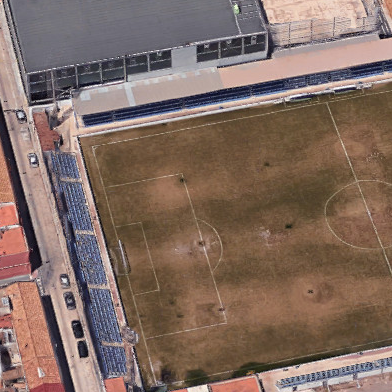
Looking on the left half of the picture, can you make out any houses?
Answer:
Yes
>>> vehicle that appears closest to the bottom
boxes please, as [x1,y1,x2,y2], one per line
[76,340,90,359]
